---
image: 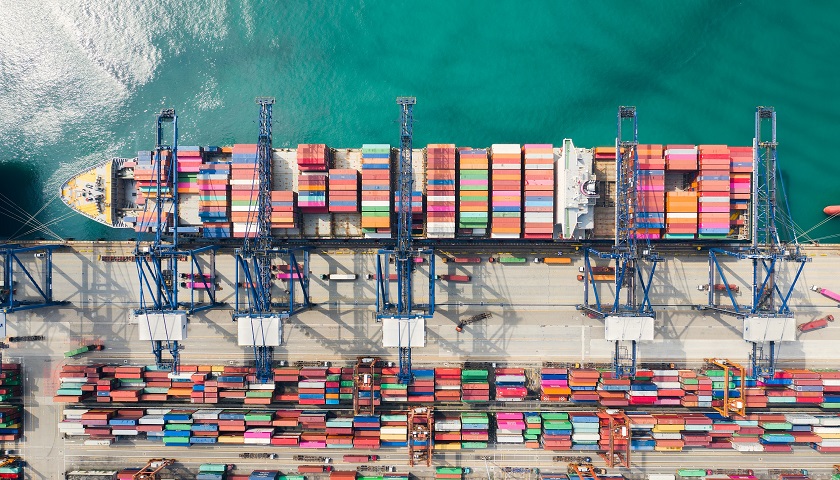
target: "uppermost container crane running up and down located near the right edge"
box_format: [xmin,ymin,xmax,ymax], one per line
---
[690,106,813,378]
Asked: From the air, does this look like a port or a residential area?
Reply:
port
